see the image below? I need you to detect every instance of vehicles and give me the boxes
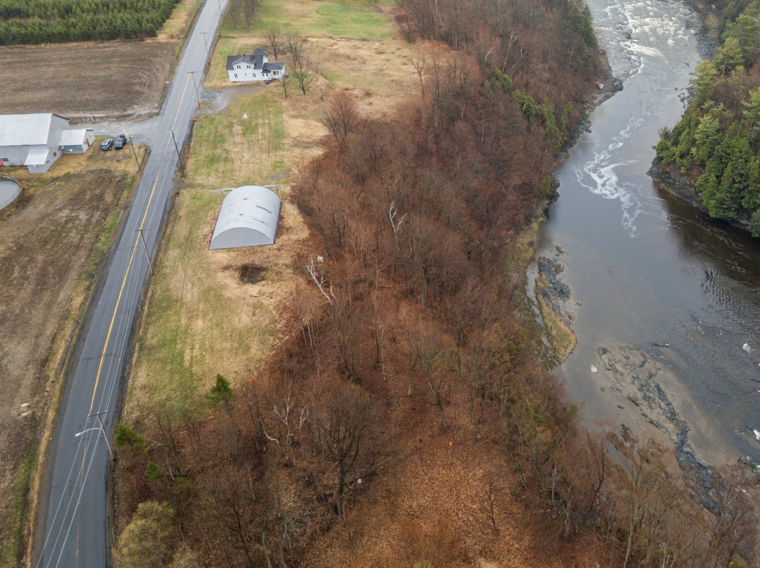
[109,134,132,148]
[96,140,114,151]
